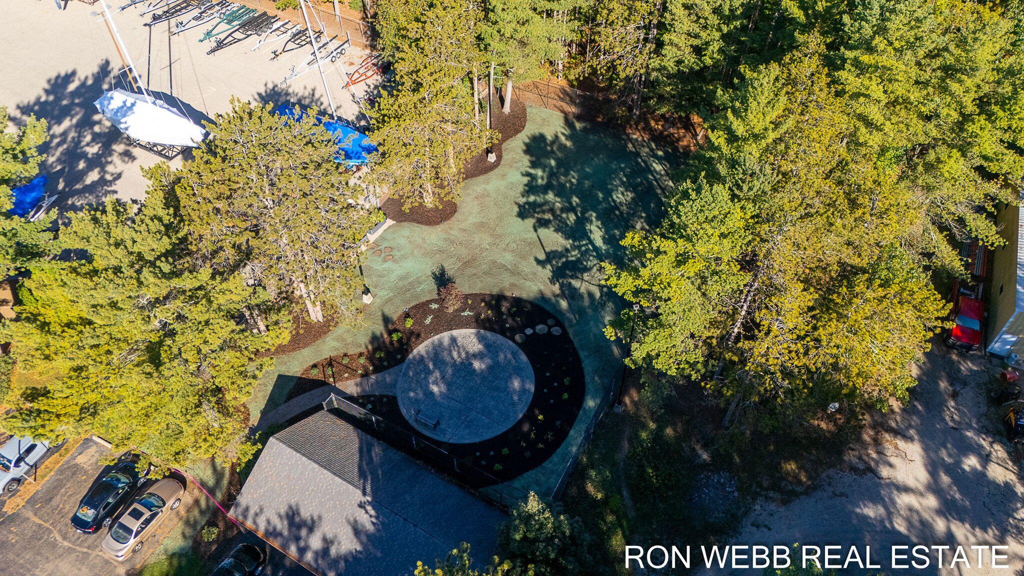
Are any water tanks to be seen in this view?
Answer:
No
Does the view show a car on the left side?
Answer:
Yes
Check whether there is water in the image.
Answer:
No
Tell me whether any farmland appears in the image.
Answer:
No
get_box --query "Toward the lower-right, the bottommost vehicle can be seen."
[980,407,1024,454]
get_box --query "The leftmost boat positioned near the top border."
[81,0,214,166]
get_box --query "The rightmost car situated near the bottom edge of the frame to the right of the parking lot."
[200,530,266,576]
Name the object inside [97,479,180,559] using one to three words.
car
